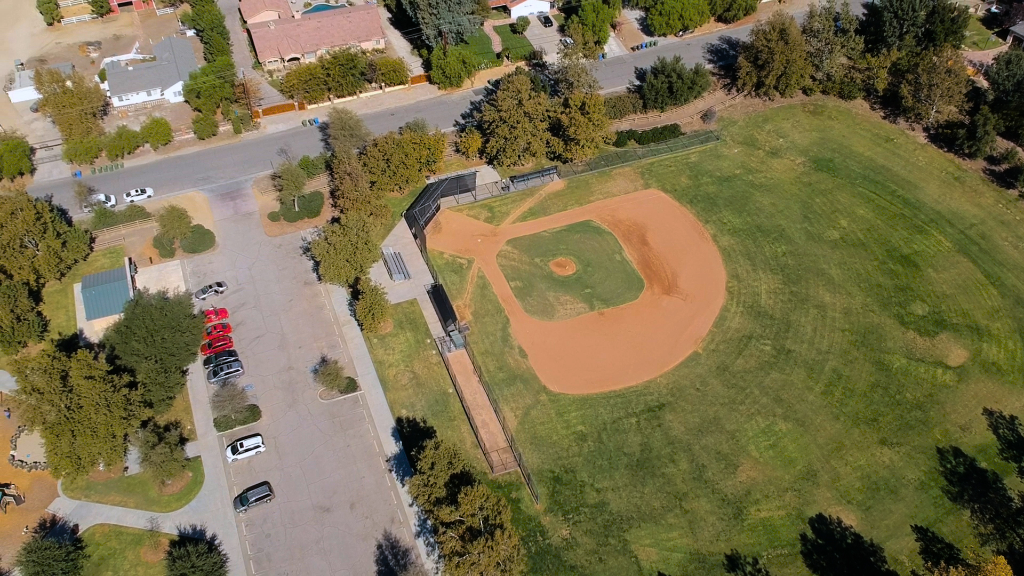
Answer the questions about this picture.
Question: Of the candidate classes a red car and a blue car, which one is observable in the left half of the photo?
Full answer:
You can see a red car in the left half of the photo.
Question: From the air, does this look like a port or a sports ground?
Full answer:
This image shows a sports ground.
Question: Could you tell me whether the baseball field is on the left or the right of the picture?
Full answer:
You can find the baseball field on the right side of the picture.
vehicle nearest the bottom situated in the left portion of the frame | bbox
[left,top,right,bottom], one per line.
[231,482,276,513]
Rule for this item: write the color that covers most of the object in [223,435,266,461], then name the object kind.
white car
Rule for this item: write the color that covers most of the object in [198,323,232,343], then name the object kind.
red car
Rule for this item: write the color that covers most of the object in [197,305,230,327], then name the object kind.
red car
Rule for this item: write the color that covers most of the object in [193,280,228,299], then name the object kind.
gray car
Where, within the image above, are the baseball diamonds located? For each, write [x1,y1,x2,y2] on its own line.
[424,105,1024,576]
